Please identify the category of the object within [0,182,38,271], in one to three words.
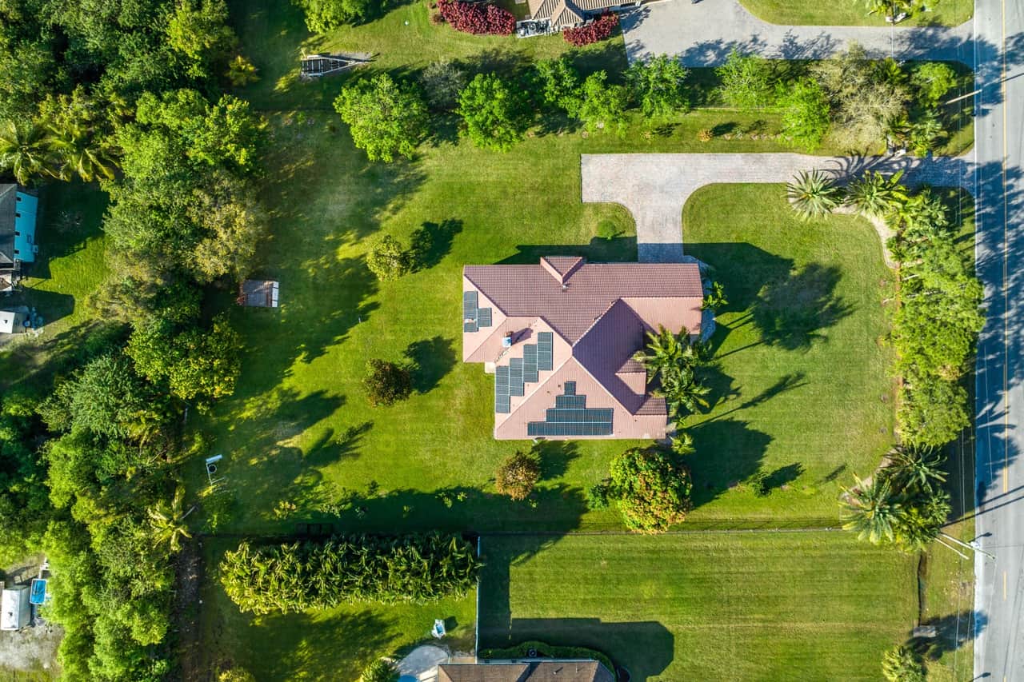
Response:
house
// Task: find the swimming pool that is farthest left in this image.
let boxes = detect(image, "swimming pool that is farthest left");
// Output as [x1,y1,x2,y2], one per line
[31,575,53,605]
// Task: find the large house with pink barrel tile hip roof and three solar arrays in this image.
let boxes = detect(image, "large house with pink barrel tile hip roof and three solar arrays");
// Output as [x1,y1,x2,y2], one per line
[463,256,703,444]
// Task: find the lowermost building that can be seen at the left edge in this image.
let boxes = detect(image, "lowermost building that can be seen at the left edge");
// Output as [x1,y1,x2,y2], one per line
[2,581,35,631]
